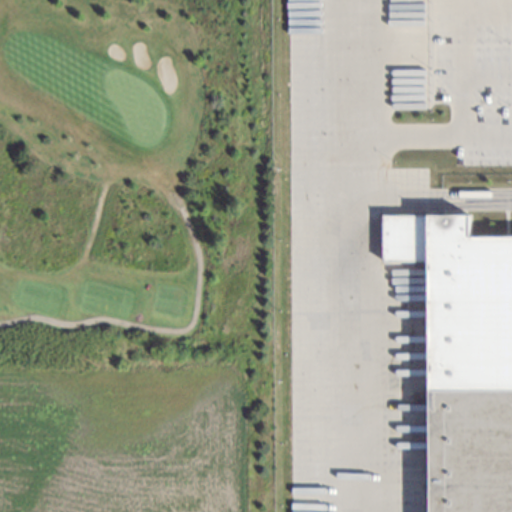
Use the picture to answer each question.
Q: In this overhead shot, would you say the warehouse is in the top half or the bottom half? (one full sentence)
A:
Seen from above, the warehouse lies in the bottom half of the view.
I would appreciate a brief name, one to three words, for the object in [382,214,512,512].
warehouse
